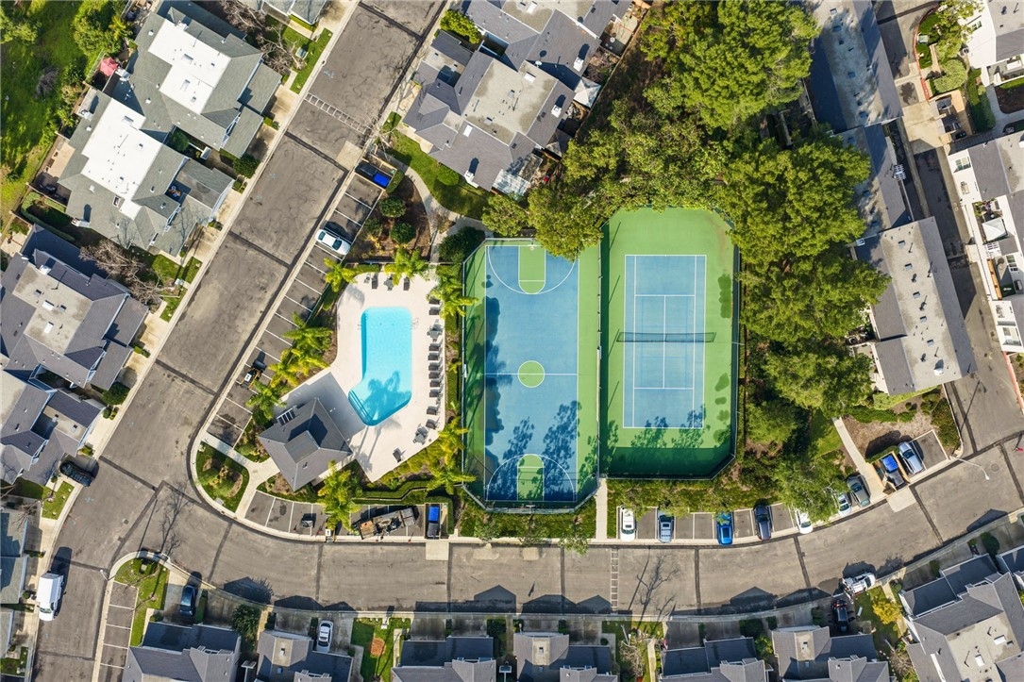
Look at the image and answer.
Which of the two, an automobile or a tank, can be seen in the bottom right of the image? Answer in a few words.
automobile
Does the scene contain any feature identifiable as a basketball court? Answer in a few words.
Yes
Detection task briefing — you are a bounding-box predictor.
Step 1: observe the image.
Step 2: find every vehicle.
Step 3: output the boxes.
[657,505,673,543]
[38,571,67,620]
[620,507,636,541]
[826,596,856,633]
[179,583,200,619]
[715,510,732,545]
[831,486,852,517]
[60,458,98,489]
[239,360,261,389]
[752,503,770,541]
[790,509,812,534]
[843,474,870,510]
[894,440,923,476]
[313,228,353,256]
[840,569,877,597]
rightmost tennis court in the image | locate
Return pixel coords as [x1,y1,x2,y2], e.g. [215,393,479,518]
[600,207,730,475]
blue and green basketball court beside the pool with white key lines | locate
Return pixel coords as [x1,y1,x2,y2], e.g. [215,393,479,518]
[465,240,598,507]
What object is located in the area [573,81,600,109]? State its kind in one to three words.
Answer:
gazebo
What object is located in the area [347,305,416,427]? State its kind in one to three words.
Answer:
swimming pool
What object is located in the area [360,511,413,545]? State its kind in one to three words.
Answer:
trailer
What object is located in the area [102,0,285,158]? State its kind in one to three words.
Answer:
house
